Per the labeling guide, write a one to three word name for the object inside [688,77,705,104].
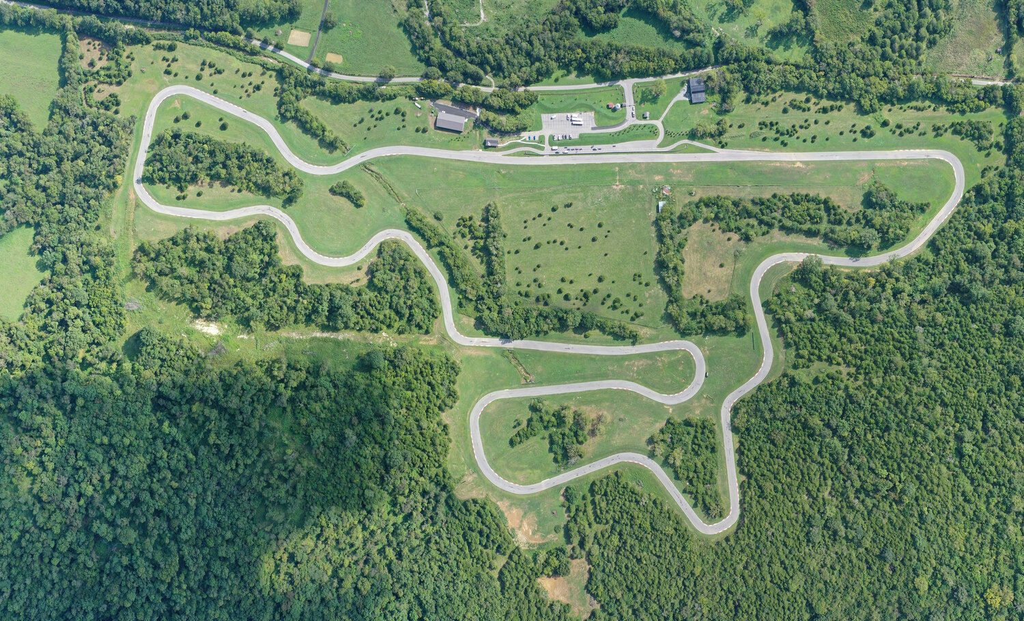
barn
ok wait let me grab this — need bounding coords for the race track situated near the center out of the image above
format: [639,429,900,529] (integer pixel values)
[133,85,965,534]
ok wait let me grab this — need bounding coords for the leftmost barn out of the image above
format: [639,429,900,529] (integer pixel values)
[436,111,466,133]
